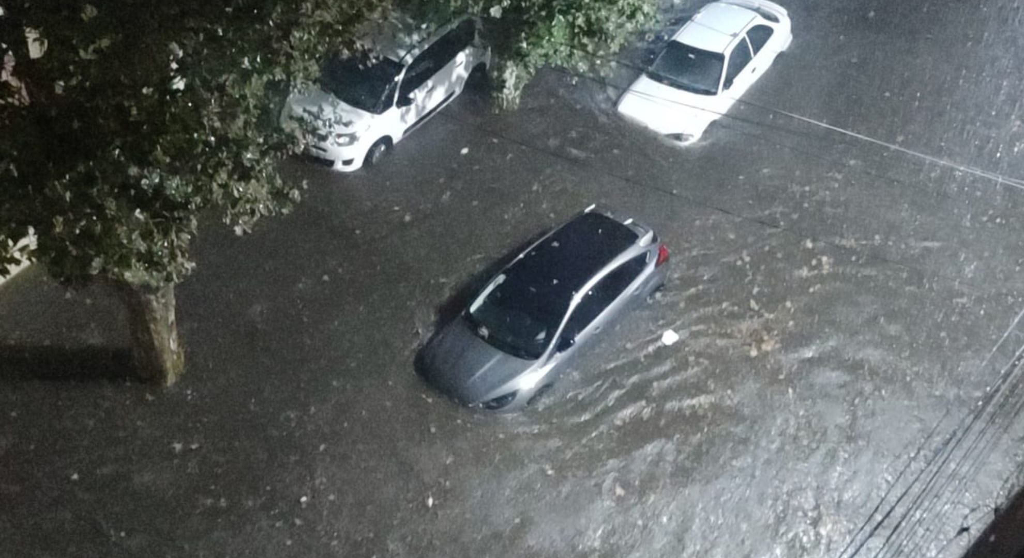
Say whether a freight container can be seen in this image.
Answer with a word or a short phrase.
No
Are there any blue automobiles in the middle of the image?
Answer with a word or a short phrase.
No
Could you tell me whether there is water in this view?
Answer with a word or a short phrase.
Yes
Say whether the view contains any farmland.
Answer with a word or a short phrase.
No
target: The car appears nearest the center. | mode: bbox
[418,205,664,413]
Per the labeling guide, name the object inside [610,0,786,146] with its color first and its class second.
white car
